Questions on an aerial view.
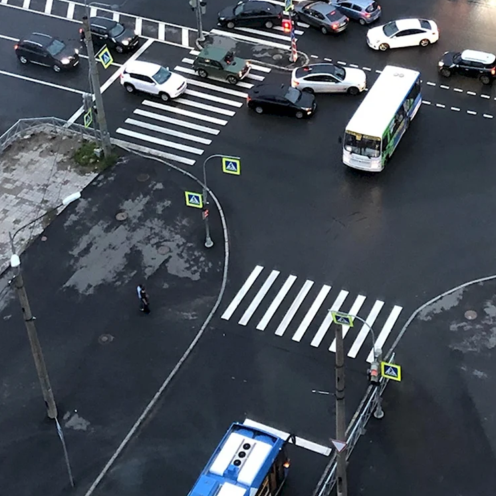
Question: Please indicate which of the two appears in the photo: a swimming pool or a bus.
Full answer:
It is a bus that can be seen here.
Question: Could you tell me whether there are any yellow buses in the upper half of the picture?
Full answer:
No, in the upper half of the picture there is no yellow bus.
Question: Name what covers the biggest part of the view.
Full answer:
For the most part, this view shows paved ground.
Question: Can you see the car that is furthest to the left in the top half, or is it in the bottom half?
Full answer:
The car that is furthest to the left is in the top half of the image.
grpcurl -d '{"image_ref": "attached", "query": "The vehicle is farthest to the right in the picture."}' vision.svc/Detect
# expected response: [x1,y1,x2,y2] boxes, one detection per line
[439,48,496,82]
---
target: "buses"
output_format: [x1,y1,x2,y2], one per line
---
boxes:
[336,66,421,174]
[193,426,304,496]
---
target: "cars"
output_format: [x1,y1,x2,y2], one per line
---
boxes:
[288,0,354,31]
[291,62,367,97]
[216,0,286,31]
[75,13,145,53]
[366,18,440,52]
[439,48,496,82]
[242,81,319,119]
[117,57,189,102]
[192,43,252,84]
[11,28,81,69]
